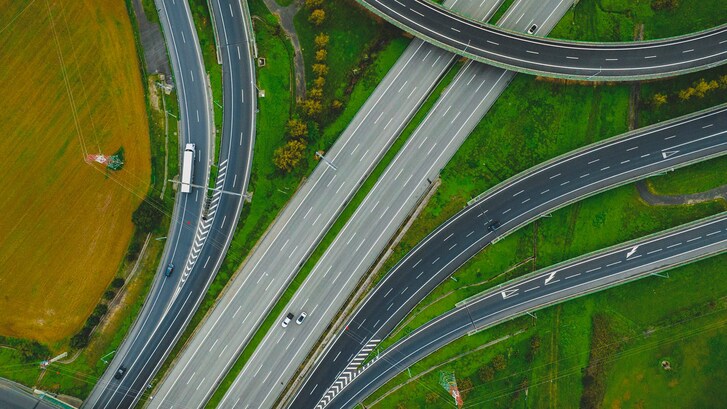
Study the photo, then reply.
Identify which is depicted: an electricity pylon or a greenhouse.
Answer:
electricity pylon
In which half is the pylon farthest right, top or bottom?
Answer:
bottom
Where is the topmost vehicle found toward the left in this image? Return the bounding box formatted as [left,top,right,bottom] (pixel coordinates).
[179,142,193,192]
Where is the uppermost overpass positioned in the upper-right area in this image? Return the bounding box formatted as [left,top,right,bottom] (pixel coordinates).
[349,0,727,82]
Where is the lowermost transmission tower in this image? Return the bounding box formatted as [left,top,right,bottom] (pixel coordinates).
[438,368,466,406]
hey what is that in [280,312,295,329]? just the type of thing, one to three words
vehicle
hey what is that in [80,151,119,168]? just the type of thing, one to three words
pylon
